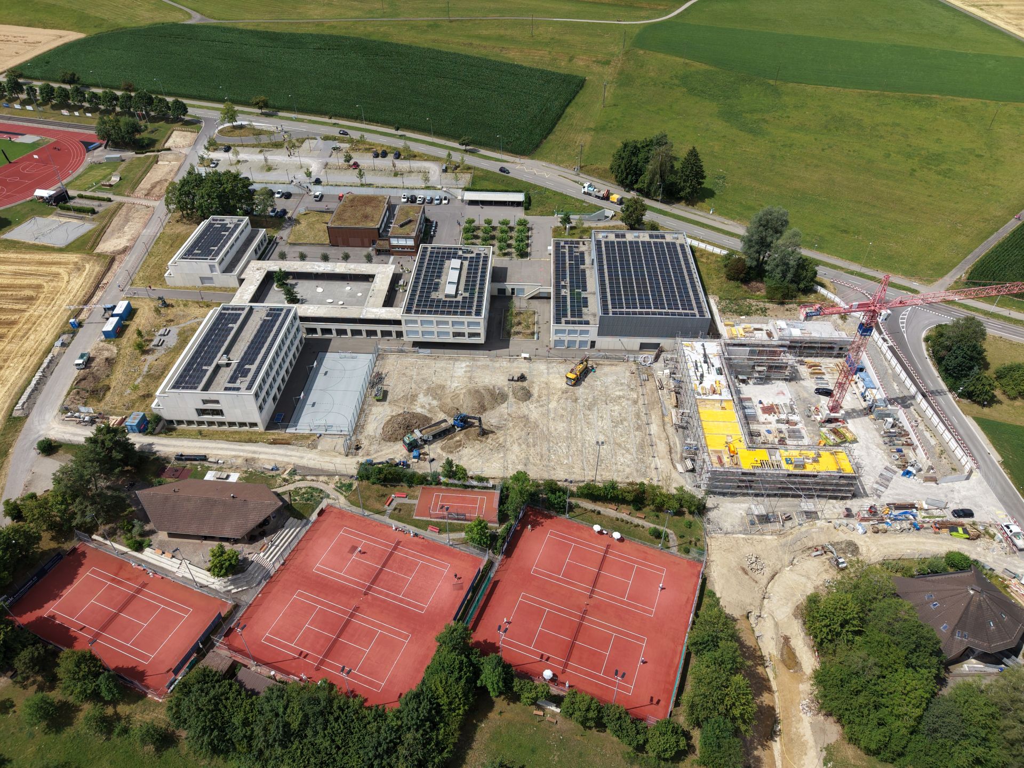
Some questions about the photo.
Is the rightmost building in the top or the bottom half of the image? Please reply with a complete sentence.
The bottom half of the photo is where the rightmost building is.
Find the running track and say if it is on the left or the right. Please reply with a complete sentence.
The running track appears in the left half of the scene.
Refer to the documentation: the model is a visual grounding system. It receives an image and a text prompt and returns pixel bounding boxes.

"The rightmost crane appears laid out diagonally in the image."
[806,270,1024,428]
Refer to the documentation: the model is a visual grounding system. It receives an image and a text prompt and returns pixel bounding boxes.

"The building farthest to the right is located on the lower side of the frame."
[893,565,1024,657]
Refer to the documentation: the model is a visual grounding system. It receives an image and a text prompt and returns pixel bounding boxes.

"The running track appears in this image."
[0,123,106,210]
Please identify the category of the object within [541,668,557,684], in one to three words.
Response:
umbrella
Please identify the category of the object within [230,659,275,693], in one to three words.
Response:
shed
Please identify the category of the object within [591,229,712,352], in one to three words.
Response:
building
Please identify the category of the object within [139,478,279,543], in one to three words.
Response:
building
